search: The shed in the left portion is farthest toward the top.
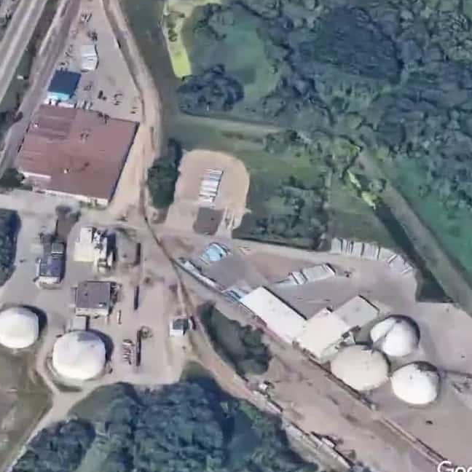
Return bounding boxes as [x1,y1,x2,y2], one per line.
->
[82,45,97,72]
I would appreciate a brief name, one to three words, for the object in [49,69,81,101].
building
